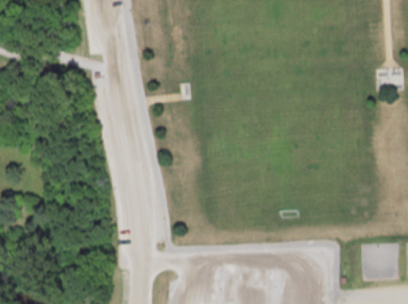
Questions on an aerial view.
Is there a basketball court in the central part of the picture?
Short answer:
No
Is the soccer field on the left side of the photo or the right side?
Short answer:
right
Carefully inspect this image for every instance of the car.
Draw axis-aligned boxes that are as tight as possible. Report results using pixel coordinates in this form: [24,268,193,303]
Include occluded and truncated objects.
[112,1,124,7]
[119,240,132,245]
[120,230,131,234]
